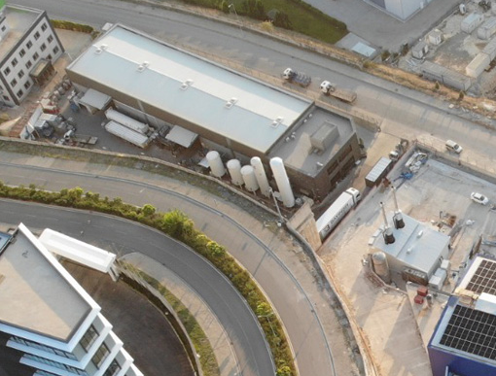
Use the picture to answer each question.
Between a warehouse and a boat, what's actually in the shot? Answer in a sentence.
Of the two, only a warehouse appears.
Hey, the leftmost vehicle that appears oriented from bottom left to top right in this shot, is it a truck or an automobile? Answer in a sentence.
I'd identify the leftmost vehicle that appears oriented from bottom left to top right as a truck.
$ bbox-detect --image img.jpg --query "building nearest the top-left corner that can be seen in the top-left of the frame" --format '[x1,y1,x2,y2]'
[0,0,65,107]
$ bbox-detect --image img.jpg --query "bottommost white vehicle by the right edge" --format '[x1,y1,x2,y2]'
[468,191,490,205]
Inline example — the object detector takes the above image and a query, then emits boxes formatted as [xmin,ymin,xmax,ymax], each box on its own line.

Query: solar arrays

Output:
[443,304,496,361]
[469,260,496,294]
